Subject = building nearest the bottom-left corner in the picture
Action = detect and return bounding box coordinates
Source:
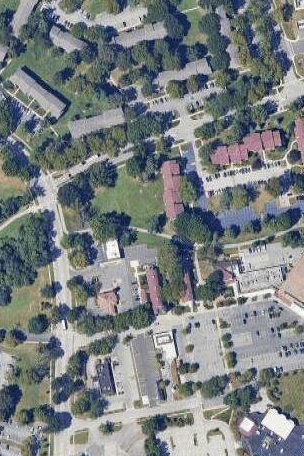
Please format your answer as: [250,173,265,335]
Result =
[97,359,115,396]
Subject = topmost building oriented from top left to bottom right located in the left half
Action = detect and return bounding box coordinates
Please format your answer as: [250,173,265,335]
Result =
[47,21,85,52]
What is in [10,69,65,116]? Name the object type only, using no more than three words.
building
